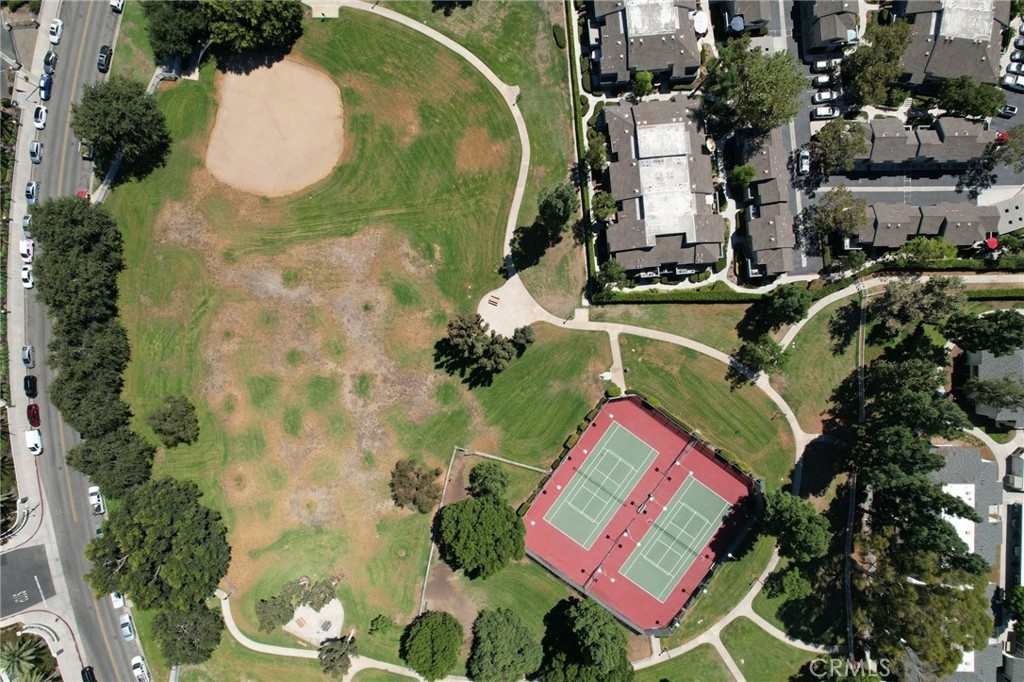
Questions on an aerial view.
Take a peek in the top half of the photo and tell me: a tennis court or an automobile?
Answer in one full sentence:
You can see an automobile in the top half of the photo.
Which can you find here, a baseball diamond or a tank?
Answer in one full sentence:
Looking from above, you can make out a baseball diamond.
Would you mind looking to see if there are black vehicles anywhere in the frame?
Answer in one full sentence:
Yes, the frame does contain a black vehicle.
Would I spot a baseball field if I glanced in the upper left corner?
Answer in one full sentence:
Yes, the scene does show a baseball field in the upper left corner.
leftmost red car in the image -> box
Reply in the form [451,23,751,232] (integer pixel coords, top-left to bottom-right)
[28,402,42,428]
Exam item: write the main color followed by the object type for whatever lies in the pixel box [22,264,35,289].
white vehicle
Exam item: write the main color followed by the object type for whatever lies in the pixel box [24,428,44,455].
white vehicle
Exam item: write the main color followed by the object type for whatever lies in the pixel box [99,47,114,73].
black car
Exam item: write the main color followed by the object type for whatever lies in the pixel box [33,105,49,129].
white car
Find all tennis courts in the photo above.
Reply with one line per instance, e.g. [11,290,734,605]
[524,394,692,587]
[585,438,751,628]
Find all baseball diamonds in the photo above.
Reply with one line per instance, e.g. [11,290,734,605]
[205,57,345,199]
